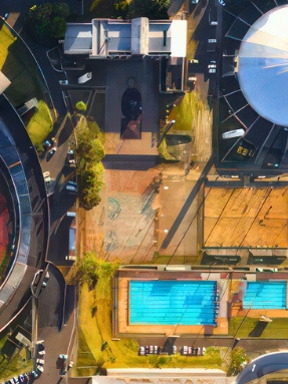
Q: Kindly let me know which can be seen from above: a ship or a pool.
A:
pool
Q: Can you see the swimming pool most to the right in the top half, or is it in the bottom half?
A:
bottom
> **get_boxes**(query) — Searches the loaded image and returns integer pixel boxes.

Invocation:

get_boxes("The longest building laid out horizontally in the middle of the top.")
[59,19,187,61]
